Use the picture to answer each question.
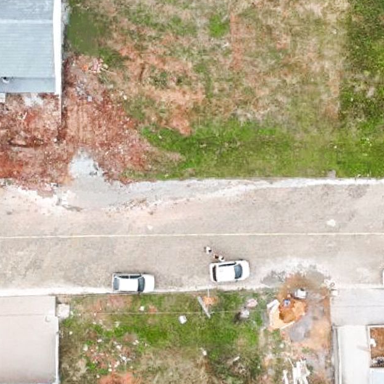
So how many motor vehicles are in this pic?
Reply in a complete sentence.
The number of motor vehicles here is 2.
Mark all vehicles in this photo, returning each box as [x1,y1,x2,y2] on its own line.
[211,261,250,285]
[113,274,155,297]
